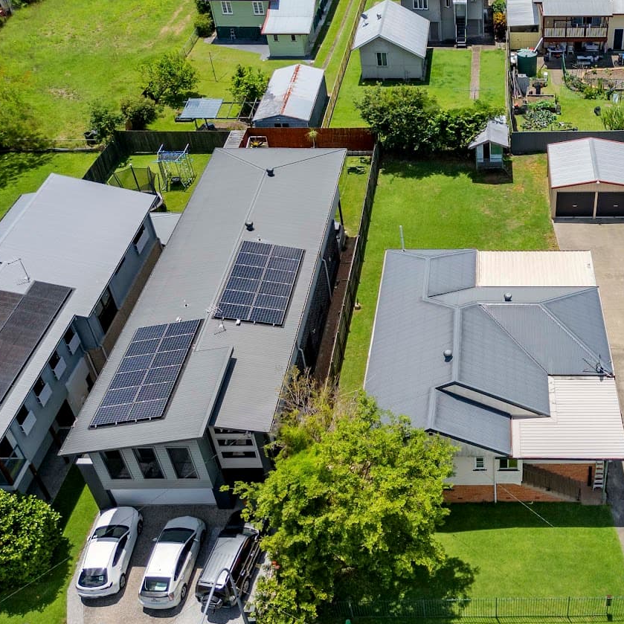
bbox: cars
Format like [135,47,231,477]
[73,504,149,596]
[199,501,275,602]
[137,515,209,608]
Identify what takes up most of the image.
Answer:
buildings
